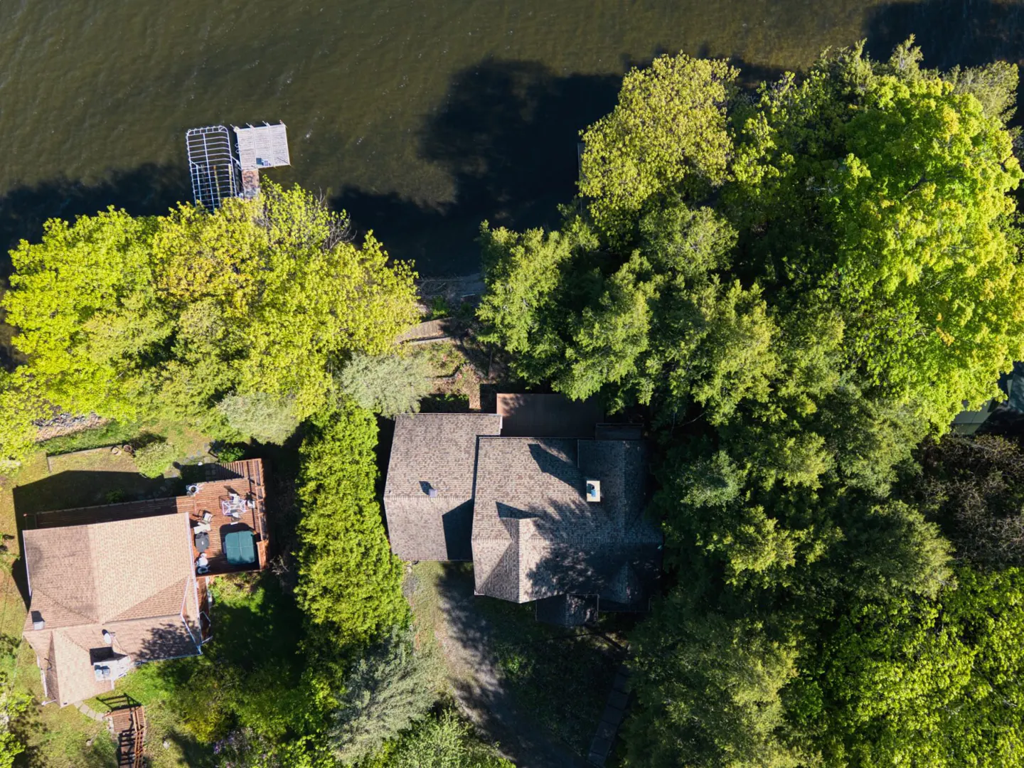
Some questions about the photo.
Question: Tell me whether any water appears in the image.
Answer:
Yes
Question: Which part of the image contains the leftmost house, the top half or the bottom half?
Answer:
bottom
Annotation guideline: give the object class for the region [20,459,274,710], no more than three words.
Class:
house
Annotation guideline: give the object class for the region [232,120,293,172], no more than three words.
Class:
pier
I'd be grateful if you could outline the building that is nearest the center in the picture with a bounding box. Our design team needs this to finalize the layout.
[387,393,663,631]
